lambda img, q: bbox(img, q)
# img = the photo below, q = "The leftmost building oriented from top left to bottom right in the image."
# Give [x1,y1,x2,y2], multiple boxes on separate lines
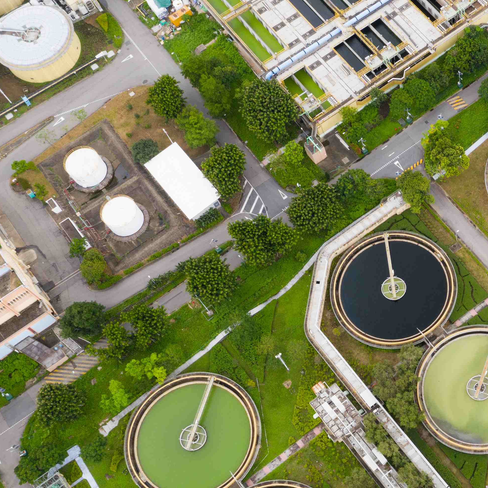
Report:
[146,143,224,225]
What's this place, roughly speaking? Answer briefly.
industrial area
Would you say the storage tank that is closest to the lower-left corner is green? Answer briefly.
Yes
